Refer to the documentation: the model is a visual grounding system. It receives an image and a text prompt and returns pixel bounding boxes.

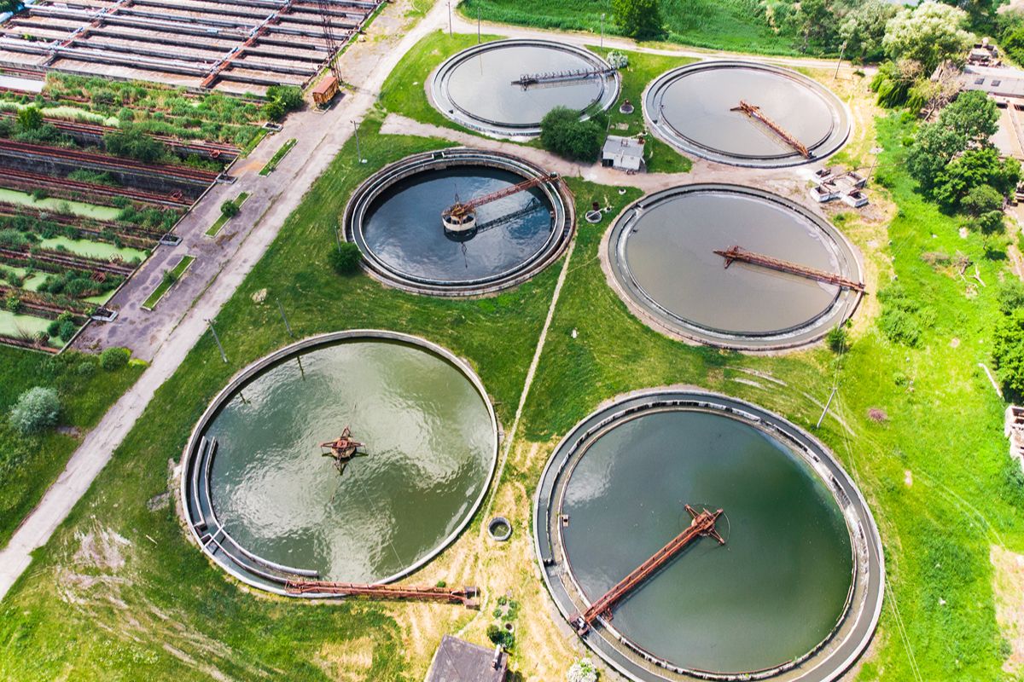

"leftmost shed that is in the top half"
[602,133,647,175]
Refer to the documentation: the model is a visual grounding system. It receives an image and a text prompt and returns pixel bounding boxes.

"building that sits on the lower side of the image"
[429,635,507,682]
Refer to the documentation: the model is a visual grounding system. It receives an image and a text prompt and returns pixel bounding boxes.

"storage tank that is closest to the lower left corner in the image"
[183,328,496,595]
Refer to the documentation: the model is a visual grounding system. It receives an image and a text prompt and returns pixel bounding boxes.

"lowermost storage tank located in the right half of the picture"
[534,390,882,682]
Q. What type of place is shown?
industrial area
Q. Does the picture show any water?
Yes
